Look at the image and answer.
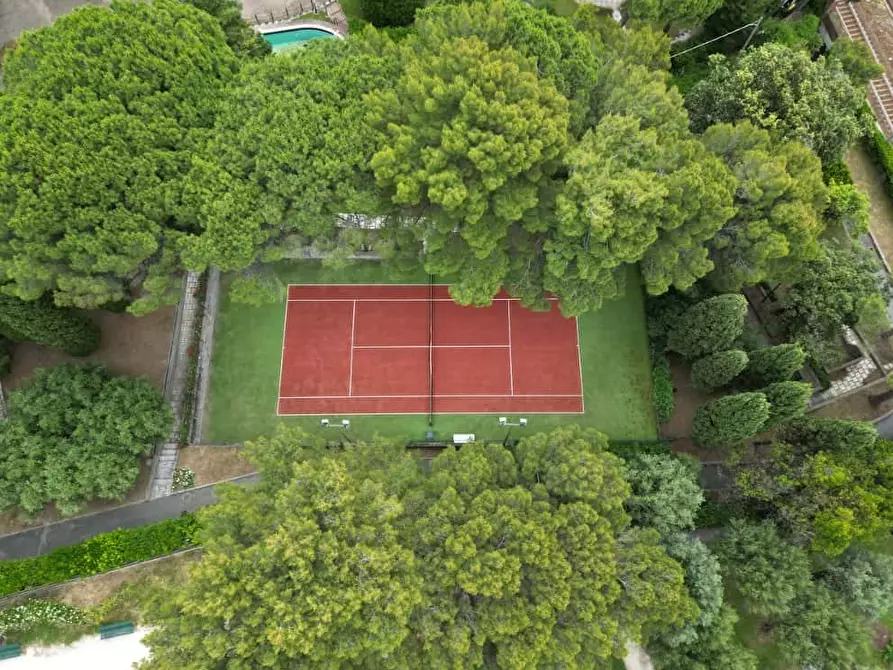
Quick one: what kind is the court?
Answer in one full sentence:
In the photo, the court shows up as a tennis court.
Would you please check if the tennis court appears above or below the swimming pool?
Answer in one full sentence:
Relative to the swimming pool, the tennis court lies below it.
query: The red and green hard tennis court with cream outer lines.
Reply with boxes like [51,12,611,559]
[204,257,660,444]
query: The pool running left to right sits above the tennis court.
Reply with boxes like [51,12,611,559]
[256,24,348,63]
